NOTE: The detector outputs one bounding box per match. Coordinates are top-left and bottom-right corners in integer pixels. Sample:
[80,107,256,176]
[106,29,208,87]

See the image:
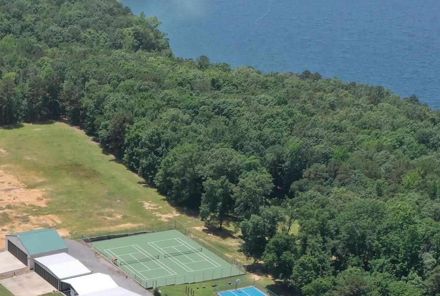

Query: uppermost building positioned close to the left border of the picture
[5,229,70,270]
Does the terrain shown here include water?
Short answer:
Yes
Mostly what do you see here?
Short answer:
trees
